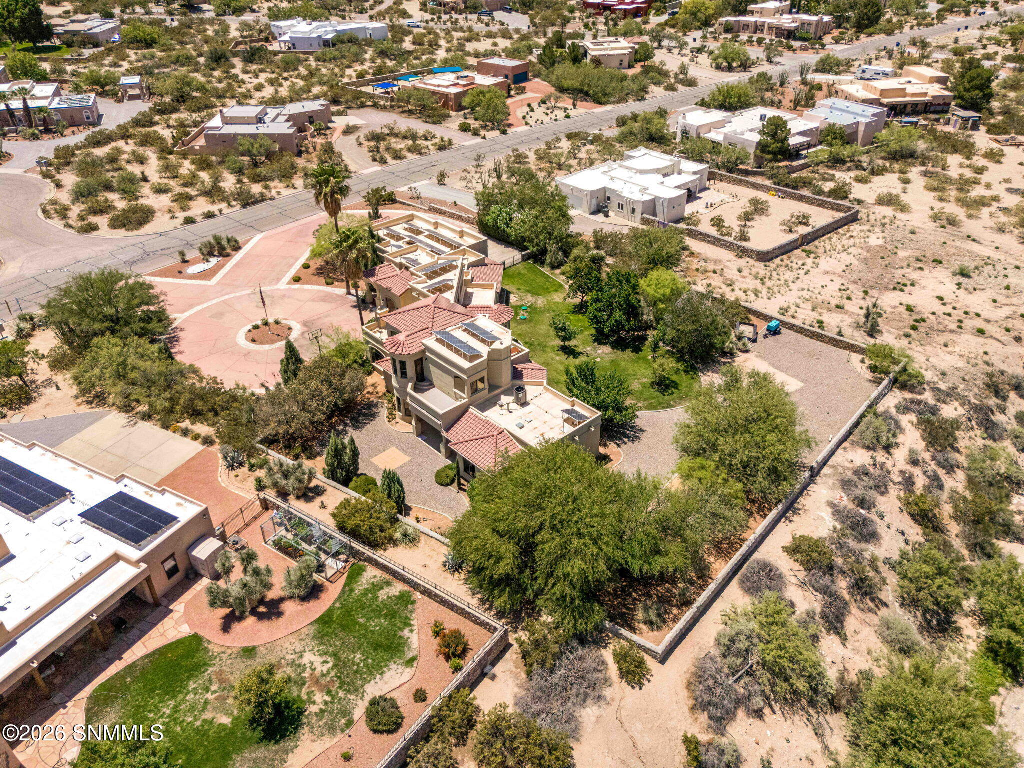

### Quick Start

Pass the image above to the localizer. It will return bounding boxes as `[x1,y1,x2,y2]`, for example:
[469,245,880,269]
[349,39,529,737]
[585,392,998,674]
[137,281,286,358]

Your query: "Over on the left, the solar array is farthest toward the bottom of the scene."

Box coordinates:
[79,492,178,551]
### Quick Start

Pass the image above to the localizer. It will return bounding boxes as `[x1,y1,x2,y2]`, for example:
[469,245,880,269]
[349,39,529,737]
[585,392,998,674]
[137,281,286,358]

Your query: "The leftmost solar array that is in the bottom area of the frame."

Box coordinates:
[0,457,72,519]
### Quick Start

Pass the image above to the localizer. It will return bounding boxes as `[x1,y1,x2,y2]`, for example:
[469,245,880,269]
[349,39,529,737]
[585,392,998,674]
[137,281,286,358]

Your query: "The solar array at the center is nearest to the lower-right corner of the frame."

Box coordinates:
[561,409,590,436]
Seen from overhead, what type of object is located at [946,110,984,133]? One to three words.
building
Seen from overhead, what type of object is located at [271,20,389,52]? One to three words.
house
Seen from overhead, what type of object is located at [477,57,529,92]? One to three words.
building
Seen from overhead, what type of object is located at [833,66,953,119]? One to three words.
house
